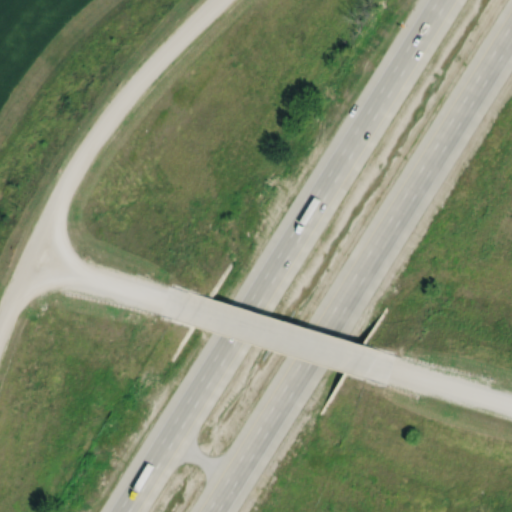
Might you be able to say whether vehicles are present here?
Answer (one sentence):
Yes, you can see a vehicle in this photo.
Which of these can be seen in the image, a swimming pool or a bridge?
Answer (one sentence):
The image shows a bridge.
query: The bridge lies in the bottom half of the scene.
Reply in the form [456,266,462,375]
[163,264,398,413]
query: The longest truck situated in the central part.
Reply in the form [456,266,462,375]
[296,198,320,233]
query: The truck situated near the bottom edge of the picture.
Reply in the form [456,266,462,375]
[130,464,154,498]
